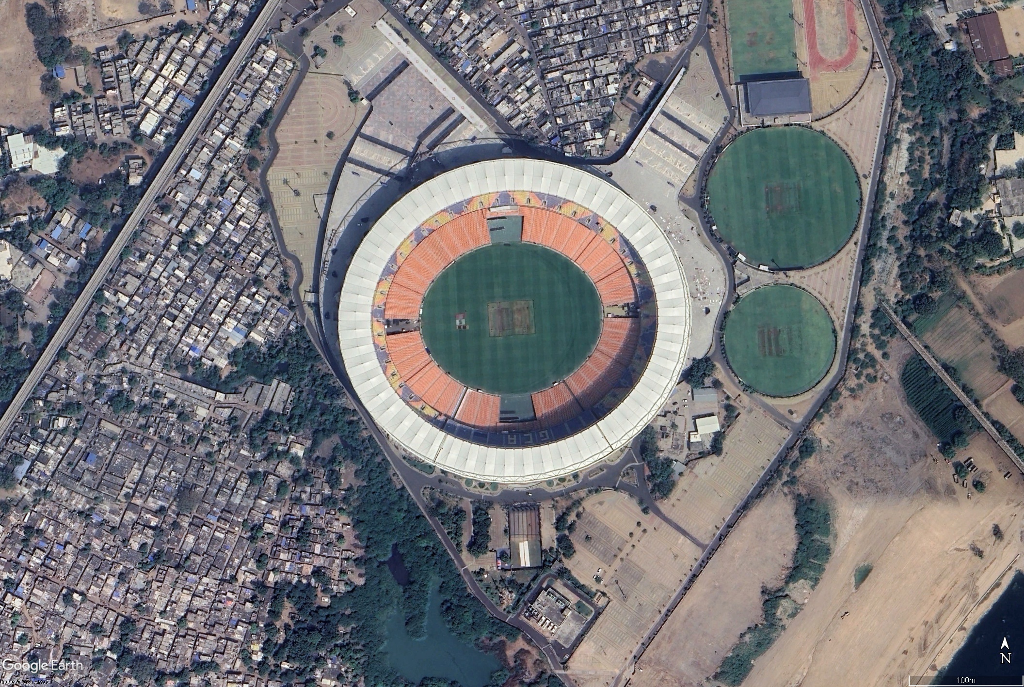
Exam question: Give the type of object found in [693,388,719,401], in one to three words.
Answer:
building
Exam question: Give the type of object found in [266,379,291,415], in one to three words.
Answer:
shed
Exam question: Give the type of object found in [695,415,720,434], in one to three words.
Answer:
building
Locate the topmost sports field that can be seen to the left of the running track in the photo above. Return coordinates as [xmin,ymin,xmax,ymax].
[728,0,801,83]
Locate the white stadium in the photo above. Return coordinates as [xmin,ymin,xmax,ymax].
[339,158,692,485]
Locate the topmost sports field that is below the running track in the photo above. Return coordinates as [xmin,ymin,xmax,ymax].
[704,126,863,270]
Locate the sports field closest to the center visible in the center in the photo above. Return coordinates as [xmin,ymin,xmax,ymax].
[422,242,603,394]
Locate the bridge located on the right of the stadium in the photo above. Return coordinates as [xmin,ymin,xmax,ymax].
[876,294,1024,476]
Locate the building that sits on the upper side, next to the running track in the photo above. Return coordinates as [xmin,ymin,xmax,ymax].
[736,78,812,126]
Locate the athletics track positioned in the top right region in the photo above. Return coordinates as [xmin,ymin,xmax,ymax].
[807,0,858,83]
